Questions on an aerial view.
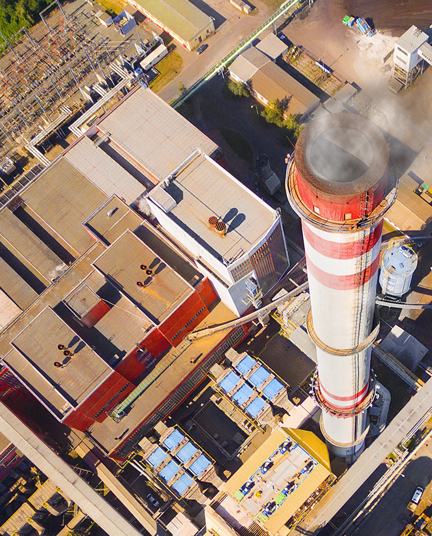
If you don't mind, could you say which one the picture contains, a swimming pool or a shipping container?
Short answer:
shipping container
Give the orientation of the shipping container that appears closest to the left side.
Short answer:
diagonally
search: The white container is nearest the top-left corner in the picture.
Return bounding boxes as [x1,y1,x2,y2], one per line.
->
[140,46,169,72]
